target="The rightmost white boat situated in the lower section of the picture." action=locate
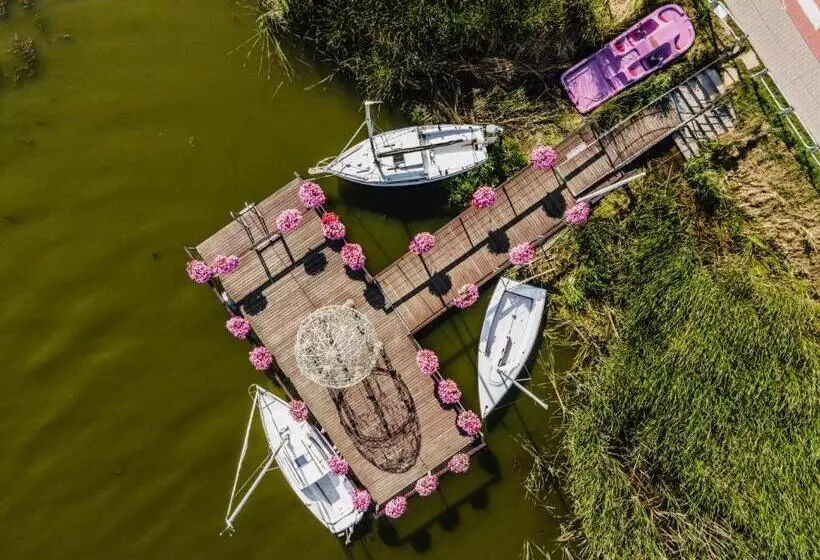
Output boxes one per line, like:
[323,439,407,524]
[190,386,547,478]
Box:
[476,276,546,419]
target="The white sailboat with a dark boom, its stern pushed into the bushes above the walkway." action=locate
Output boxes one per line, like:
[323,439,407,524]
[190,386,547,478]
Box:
[298,99,502,187]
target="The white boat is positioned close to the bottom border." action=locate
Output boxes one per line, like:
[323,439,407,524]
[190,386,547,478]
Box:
[214,385,384,539]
